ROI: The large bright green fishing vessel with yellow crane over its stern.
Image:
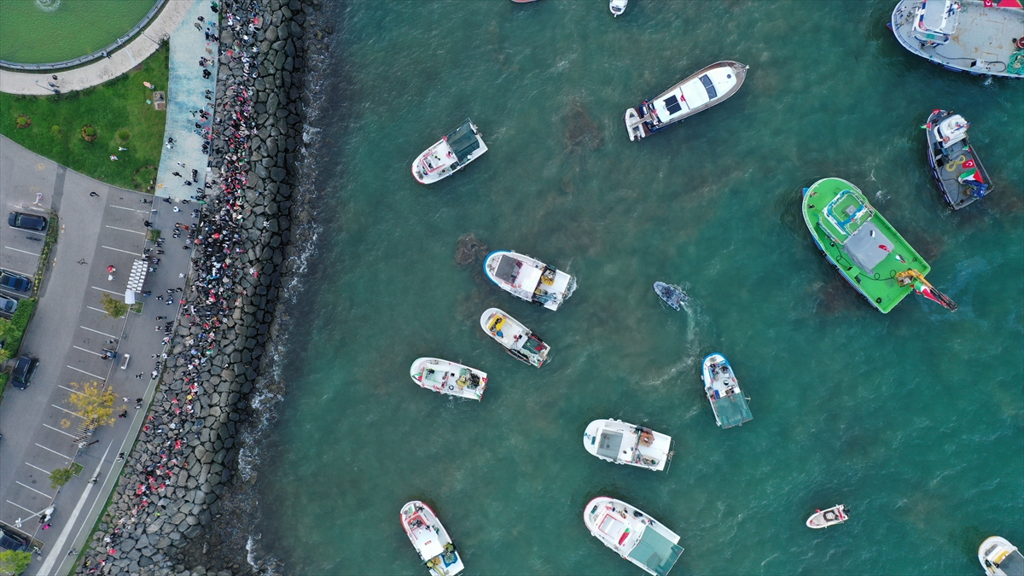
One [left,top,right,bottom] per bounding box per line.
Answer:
[798,177,953,314]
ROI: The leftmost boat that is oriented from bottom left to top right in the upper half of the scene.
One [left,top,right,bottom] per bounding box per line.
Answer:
[411,118,488,185]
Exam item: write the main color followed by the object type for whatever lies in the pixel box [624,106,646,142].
white boat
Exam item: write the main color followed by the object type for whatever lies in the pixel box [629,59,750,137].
white boat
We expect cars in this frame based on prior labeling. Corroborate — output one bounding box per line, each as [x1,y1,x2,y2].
[0,295,25,316]
[10,351,42,393]
[9,211,51,234]
[0,524,32,554]
[0,270,37,293]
